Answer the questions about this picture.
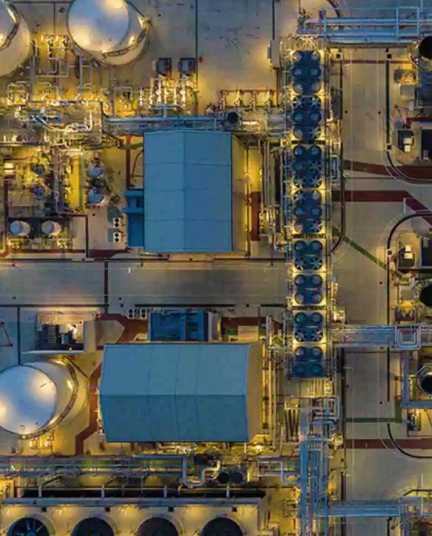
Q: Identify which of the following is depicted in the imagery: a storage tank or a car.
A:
storage tank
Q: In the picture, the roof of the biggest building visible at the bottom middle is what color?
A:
blue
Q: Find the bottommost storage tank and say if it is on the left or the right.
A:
left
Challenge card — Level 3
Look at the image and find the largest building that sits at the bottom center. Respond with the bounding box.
[97,343,265,450]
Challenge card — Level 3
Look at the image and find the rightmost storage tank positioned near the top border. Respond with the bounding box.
[65,0,152,70]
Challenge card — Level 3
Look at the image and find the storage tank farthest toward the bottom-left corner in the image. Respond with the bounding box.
[0,357,89,441]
